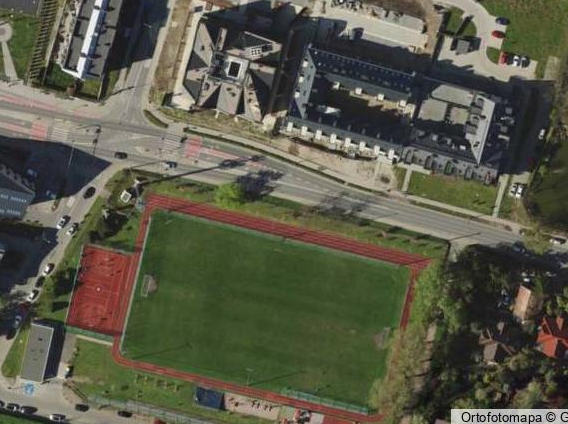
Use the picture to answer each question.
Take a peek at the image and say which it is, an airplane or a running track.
running track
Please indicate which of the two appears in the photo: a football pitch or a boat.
football pitch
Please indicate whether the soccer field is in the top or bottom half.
bottom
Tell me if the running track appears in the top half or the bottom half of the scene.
bottom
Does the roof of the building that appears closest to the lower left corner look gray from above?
Yes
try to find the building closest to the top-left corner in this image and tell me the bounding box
[63,0,125,78]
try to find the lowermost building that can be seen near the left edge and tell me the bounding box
[21,322,54,382]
